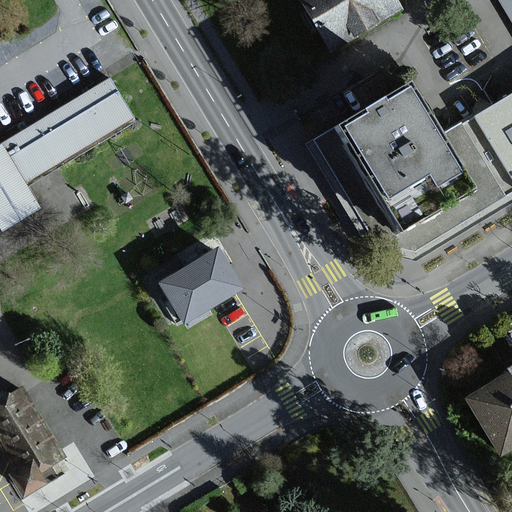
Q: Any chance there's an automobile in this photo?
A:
Yes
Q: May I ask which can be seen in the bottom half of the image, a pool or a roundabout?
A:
roundabout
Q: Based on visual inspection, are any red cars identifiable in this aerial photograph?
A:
Yes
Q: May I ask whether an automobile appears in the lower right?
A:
Yes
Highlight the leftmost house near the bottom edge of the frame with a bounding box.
[0,386,67,499]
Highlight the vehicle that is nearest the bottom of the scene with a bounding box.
[106,439,128,458]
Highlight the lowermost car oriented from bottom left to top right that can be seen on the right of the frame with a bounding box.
[392,352,415,372]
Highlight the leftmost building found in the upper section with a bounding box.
[0,142,41,232]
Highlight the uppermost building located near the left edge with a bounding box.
[0,77,136,184]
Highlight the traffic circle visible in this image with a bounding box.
[308,294,428,414]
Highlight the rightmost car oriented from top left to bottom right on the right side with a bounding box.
[452,98,470,118]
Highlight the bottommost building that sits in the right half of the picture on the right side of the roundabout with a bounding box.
[465,368,512,456]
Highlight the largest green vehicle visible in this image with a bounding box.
[362,308,398,325]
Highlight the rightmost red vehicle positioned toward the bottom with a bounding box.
[222,307,244,324]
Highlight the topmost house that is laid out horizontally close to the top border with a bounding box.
[302,0,418,52]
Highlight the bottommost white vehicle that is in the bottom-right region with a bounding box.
[410,388,426,410]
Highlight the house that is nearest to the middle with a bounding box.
[158,246,244,328]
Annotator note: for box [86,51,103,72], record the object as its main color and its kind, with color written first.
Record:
blue car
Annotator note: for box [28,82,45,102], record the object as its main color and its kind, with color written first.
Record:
red car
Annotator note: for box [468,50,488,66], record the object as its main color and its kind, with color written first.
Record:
black car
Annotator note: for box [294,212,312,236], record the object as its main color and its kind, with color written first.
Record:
black car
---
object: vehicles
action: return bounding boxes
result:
[438,52,460,68]
[444,63,468,81]
[42,78,58,100]
[72,55,92,78]
[86,51,103,72]
[4,96,23,119]
[232,150,250,172]
[217,298,238,314]
[70,396,90,414]
[284,182,301,202]
[61,61,80,84]
[86,407,108,426]
[452,98,470,118]
[410,388,426,410]
[61,382,82,400]
[222,307,244,324]
[106,439,128,458]
[28,82,45,102]
[90,10,112,26]
[98,20,120,36]
[458,38,482,56]
[343,88,361,112]
[422,32,438,46]
[17,90,36,114]
[294,212,312,236]
[432,42,453,60]
[237,327,258,343]
[468,50,488,66]
[362,308,398,325]
[392,352,415,372]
